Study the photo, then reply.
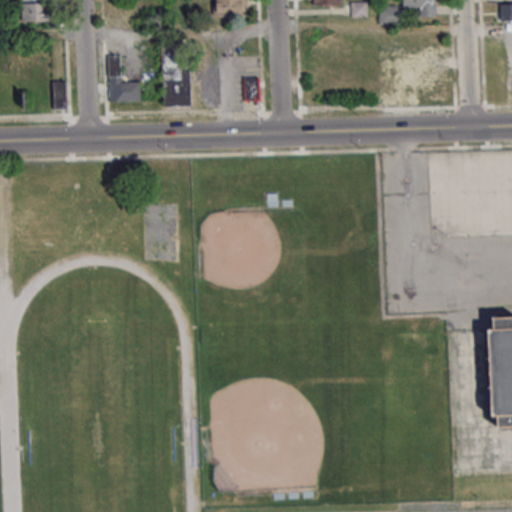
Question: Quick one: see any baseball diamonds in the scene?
Yes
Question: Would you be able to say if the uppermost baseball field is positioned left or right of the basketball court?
to the right of it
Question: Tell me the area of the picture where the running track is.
bottom left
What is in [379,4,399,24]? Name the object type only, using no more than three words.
house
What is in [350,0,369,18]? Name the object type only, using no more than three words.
building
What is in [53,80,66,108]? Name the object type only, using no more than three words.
shed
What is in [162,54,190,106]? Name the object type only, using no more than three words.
building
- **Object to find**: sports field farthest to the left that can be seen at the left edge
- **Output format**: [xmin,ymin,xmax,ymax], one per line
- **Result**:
[17,267,188,512]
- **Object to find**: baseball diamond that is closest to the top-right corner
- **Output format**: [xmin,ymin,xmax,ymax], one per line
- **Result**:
[191,154,384,336]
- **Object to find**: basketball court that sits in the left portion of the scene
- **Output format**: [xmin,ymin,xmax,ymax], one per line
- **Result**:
[144,204,180,262]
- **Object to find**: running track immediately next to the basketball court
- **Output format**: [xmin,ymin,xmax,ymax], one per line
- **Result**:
[0,250,204,512]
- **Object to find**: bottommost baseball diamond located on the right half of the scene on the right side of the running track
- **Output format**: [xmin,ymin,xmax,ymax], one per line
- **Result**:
[197,317,454,507]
